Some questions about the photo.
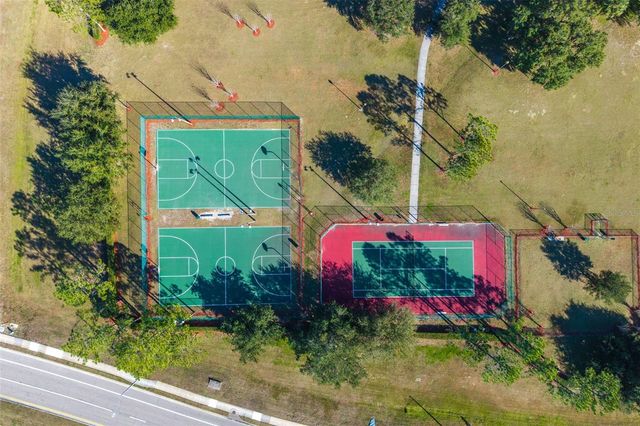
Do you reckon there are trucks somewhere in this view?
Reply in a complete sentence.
No, the photo shows no truck.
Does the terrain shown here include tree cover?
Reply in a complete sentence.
Yes, tree cover can be seen from above here.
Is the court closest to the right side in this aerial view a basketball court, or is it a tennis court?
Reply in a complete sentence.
It turns out the court closest to the right side is a tennis court.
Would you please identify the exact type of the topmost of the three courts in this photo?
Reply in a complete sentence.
I'd identify the topmost of the three courts as a basketball court.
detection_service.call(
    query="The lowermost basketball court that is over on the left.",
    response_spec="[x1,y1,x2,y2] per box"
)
[159,227,291,306]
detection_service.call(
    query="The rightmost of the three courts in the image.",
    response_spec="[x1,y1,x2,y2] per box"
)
[321,222,505,314]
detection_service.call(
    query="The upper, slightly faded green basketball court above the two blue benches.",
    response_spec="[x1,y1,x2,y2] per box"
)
[158,129,291,209]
